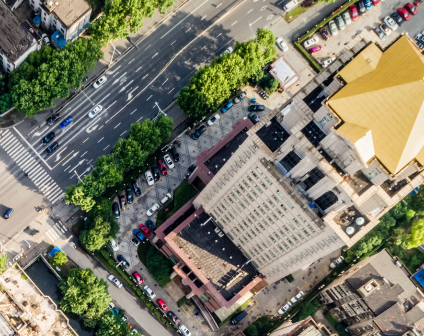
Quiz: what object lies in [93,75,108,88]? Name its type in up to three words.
vehicle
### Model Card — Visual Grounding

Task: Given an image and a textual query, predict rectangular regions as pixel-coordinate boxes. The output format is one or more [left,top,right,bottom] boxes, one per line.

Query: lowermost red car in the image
[156,297,169,312]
